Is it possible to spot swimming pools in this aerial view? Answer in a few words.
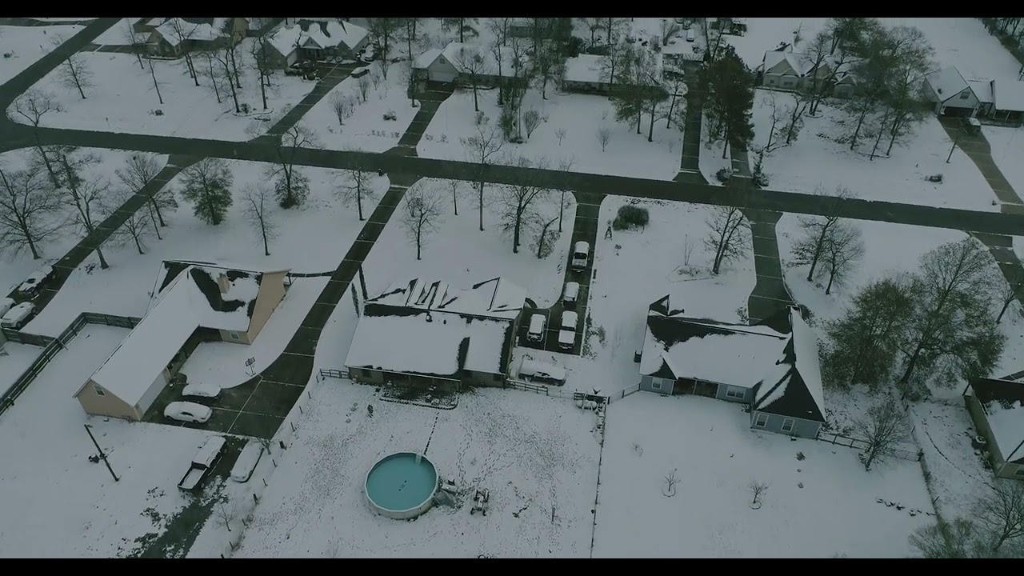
Yes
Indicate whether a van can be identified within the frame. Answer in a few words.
Yes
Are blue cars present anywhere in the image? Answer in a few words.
No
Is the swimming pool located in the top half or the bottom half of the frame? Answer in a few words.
bottom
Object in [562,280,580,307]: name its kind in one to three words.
car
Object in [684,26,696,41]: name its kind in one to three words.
vehicle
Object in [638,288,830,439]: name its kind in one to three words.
house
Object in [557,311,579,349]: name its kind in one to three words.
truck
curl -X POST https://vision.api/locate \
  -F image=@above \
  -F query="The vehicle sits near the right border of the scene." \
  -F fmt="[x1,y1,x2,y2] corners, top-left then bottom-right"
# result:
[963,115,980,134]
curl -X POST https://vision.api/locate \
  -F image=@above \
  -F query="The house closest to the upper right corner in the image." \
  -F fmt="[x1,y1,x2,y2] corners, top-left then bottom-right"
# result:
[926,61,1024,126]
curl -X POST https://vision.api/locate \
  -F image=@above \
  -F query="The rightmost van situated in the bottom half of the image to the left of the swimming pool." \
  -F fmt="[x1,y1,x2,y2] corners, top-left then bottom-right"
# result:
[228,436,269,486]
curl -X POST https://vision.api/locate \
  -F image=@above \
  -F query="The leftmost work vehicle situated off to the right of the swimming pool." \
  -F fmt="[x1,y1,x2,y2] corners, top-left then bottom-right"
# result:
[467,481,492,515]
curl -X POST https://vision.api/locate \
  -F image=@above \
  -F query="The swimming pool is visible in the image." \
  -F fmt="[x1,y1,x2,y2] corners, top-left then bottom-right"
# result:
[362,454,438,531]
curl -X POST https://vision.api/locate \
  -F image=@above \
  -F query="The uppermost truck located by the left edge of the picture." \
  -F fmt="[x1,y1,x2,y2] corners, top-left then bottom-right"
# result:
[16,264,62,299]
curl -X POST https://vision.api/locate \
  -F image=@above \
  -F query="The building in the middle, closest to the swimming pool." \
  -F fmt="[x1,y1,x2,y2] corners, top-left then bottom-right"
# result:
[340,277,526,396]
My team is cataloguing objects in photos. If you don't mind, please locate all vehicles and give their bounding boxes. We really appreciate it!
[0,298,40,329]
[0,295,22,316]
[467,481,492,515]
[361,48,376,63]
[16,264,62,299]
[557,311,579,349]
[228,436,269,486]
[562,280,580,307]
[517,364,569,387]
[171,433,231,492]
[570,238,590,269]
[684,26,696,41]
[526,312,548,343]
[349,66,372,81]
[161,402,214,426]
[176,380,227,401]
[963,115,980,134]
